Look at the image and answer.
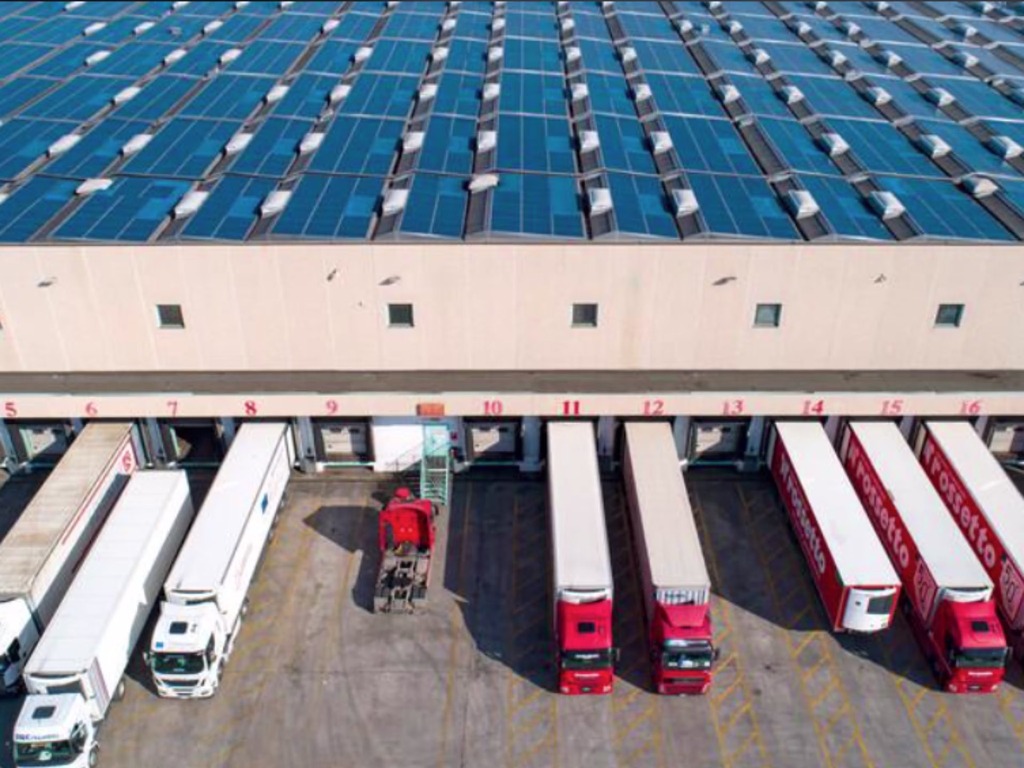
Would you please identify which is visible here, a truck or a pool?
truck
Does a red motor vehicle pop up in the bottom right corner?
Yes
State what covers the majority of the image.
buildings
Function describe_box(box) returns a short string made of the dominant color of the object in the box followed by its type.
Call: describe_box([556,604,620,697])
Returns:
red truck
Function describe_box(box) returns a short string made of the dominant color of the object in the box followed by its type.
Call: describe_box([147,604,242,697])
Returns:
white truck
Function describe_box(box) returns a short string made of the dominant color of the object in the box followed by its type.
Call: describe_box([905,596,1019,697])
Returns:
red truck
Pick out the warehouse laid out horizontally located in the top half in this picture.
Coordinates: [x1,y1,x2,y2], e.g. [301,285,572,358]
[0,0,1024,479]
